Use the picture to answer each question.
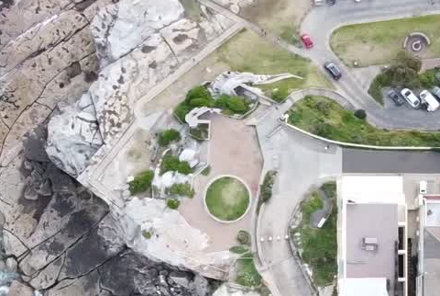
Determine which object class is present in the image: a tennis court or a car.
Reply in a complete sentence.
This aerial view contains a car.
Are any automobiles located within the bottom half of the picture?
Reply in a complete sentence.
No, the scene shows no automobile within the bottom half of the picture.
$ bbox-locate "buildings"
[335,174,408,296]
[410,194,440,296]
